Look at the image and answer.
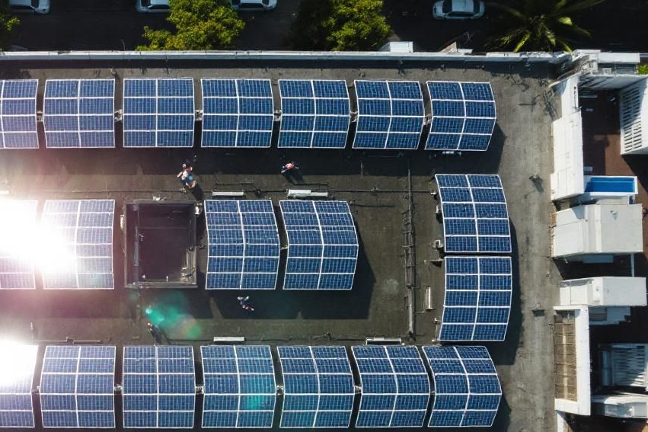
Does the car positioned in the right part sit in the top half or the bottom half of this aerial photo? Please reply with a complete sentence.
The top half of the photo is where the car positioned in the right part is.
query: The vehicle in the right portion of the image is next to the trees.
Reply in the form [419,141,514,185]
[428,0,484,24]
